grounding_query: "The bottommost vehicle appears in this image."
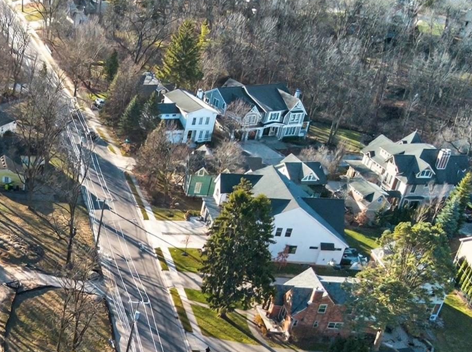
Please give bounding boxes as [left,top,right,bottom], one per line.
[85,127,101,142]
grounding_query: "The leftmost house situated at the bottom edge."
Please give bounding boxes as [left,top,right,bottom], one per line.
[259,267,380,344]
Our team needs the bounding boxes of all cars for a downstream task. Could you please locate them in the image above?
[85,127,101,142]
[86,94,111,106]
